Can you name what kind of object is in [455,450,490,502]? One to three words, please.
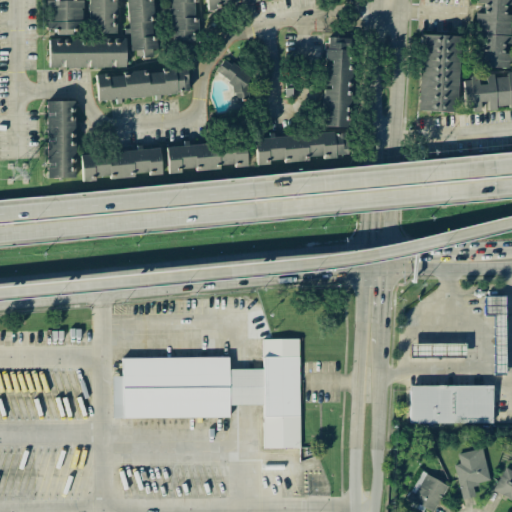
house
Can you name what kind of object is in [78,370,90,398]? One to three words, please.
vehicle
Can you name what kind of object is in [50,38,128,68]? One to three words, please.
building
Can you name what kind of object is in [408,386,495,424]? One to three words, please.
building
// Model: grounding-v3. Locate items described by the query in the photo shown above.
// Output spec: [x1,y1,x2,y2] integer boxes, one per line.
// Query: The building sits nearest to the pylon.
[47,101,77,179]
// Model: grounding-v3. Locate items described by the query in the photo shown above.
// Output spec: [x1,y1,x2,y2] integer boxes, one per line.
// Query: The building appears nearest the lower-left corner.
[112,339,310,462]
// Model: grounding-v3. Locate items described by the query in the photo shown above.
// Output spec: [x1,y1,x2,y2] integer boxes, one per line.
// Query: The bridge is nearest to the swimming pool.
[0,152,512,248]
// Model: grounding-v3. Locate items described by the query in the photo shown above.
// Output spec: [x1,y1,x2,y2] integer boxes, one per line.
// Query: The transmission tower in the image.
[8,163,33,184]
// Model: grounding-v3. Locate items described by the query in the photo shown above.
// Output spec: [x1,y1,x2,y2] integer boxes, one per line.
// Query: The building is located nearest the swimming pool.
[218,59,250,98]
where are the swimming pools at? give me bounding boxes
[210,73,236,114]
